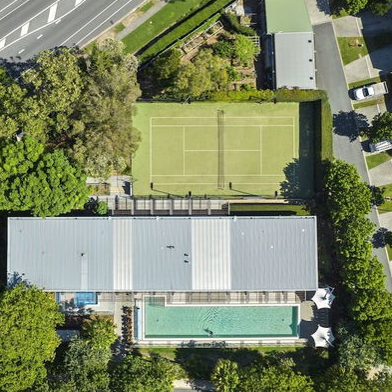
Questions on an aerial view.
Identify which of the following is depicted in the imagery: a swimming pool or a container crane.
swimming pool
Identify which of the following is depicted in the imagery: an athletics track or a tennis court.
tennis court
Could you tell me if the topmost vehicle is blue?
No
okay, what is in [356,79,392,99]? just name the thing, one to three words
vehicle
